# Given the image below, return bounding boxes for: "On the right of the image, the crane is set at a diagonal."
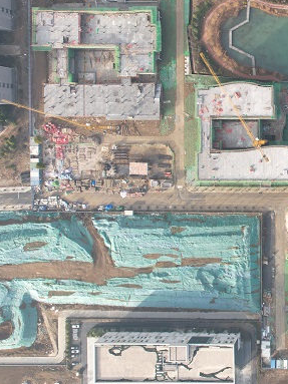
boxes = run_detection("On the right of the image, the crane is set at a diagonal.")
[201,53,270,162]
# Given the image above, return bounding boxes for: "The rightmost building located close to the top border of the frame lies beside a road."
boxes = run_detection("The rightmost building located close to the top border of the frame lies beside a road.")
[33,8,166,86]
